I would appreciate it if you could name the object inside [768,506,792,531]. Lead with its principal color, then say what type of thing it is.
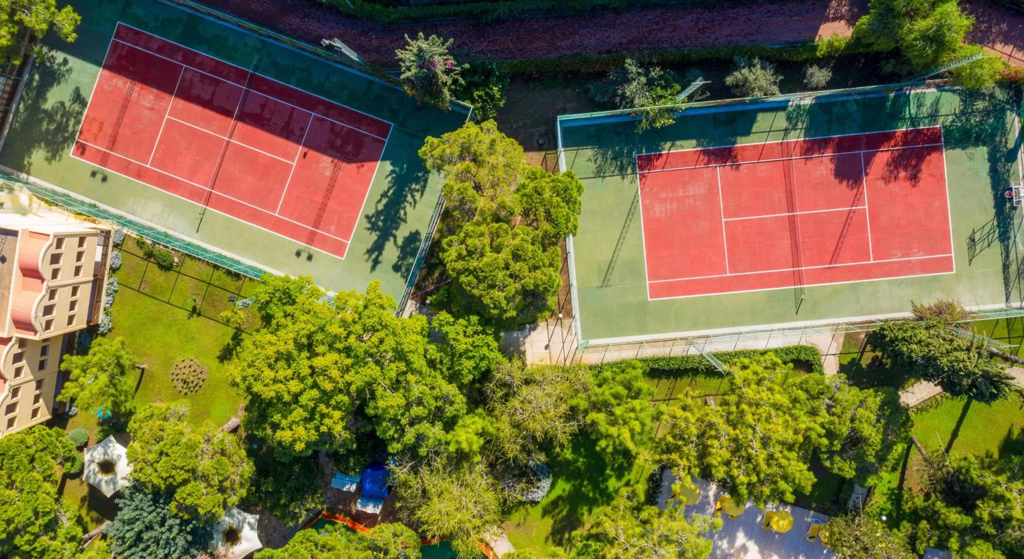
yellow umbrella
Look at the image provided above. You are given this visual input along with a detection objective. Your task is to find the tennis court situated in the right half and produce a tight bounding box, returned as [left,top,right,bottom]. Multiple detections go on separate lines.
[556,78,1024,347]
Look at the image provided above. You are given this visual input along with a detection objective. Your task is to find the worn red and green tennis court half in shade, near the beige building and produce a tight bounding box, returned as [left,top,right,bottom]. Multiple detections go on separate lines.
[0,0,475,318]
